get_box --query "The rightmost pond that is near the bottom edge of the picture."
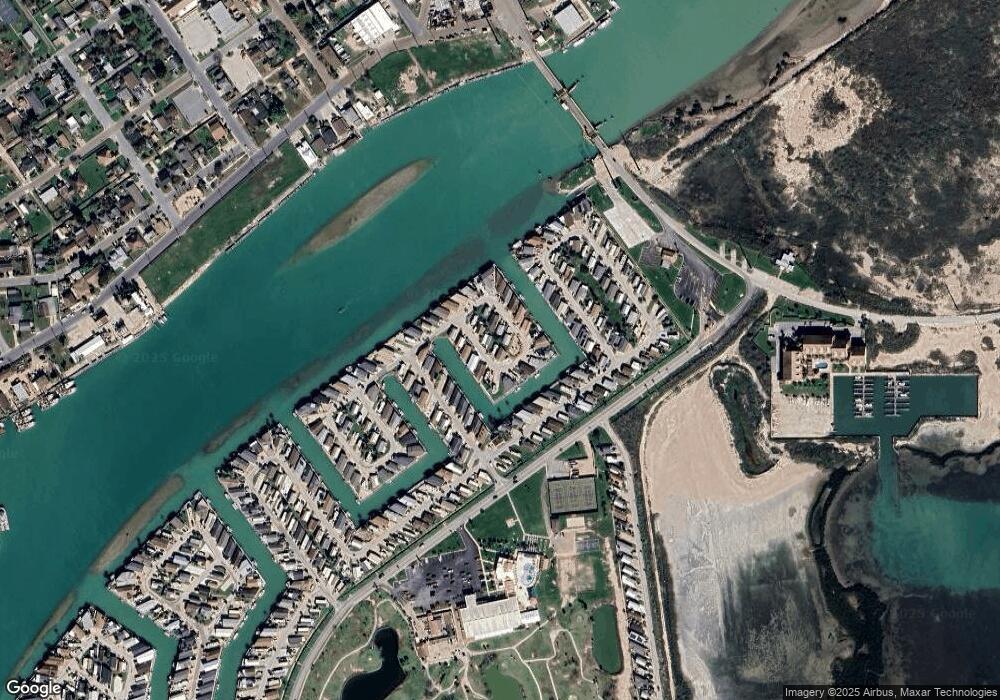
[592,604,622,675]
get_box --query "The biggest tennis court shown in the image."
[547,475,597,515]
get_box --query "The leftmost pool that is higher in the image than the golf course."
[518,554,539,587]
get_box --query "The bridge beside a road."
[527,49,607,154]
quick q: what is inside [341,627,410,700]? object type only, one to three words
pond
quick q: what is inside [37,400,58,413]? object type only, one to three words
boat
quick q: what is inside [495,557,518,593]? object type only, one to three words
building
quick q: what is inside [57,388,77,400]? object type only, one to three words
boat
